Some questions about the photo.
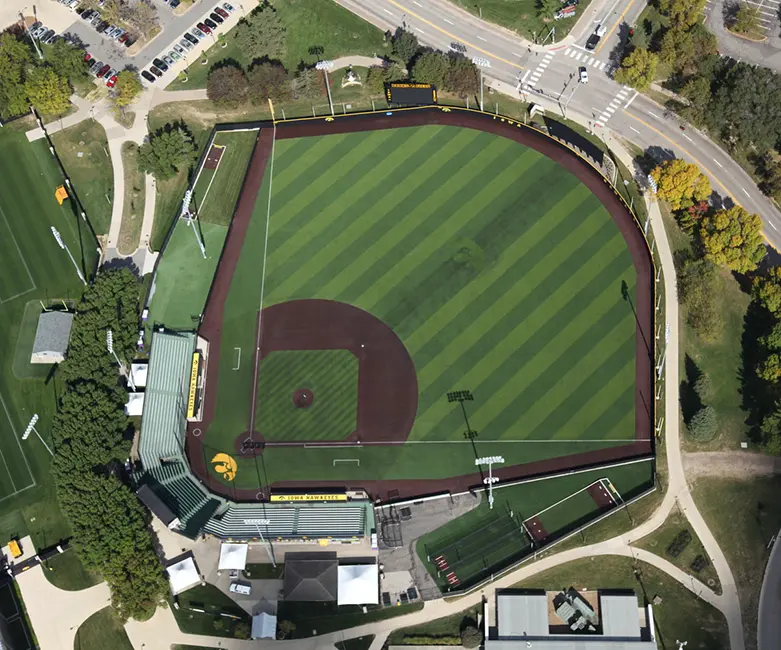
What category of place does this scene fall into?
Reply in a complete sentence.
The picture captures a sports ground.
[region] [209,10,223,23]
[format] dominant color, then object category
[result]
black vehicle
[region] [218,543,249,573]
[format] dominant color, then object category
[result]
white tent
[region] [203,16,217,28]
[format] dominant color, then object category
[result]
black vehicle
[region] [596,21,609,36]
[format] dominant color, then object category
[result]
white vehicle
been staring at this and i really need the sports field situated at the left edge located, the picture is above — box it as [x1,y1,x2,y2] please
[0,111,100,577]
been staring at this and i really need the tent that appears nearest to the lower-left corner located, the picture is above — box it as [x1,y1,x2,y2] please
[168,557,201,599]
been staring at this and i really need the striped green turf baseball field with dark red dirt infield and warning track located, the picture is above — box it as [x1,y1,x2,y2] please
[185,112,654,509]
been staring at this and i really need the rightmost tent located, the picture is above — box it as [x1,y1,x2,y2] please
[338,565,378,608]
